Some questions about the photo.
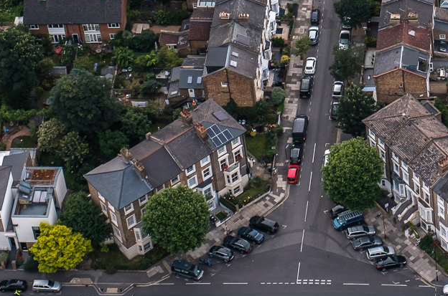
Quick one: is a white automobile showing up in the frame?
Yes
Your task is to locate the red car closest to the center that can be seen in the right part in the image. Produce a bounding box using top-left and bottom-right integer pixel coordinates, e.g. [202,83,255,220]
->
[284,164,302,184]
